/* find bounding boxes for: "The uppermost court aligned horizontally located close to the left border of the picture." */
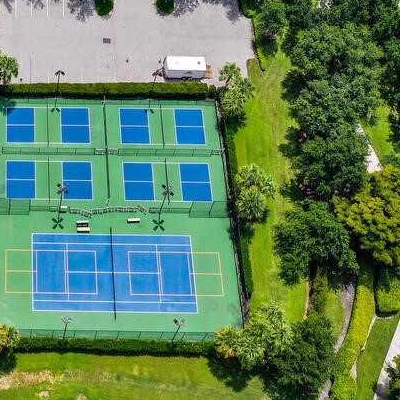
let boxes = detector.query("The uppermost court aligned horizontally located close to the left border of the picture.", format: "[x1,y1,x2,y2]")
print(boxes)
[0,100,107,151]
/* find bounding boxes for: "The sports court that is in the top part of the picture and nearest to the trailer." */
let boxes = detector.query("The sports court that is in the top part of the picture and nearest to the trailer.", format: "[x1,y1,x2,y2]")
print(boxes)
[104,101,222,153]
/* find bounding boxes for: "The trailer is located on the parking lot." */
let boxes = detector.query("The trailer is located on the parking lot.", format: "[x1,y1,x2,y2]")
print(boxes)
[157,56,214,81]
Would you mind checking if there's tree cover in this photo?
Yes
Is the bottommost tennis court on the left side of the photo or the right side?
left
